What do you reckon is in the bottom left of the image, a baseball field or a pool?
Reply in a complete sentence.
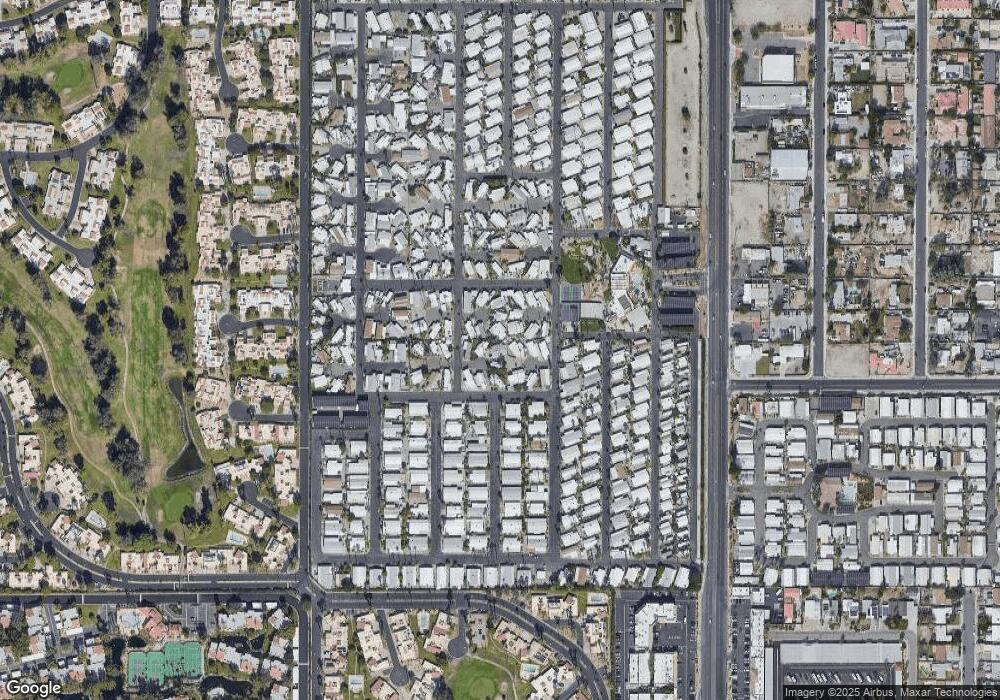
The one visible in the bottom left of the image is a pool.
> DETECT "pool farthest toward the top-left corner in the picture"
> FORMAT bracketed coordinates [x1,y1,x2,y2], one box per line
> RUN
[89,28,112,50]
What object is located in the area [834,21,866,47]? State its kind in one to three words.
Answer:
house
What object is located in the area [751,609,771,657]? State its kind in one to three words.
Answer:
building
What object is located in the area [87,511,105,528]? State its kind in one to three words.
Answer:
swimming pool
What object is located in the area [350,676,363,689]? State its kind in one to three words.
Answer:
swimming pool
